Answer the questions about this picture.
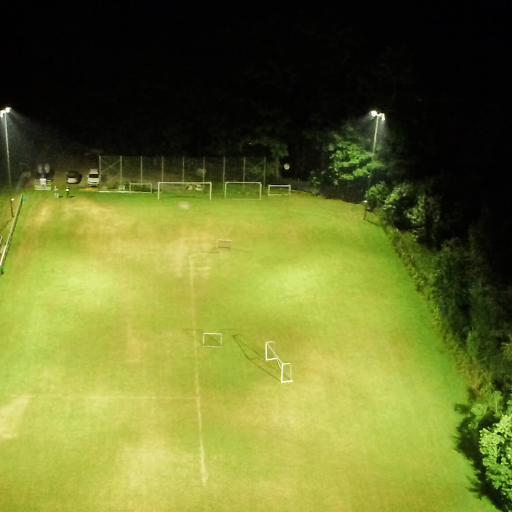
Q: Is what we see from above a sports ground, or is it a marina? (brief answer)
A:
sports ground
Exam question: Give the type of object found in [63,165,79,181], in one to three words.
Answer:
car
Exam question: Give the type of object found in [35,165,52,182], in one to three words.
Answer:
car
